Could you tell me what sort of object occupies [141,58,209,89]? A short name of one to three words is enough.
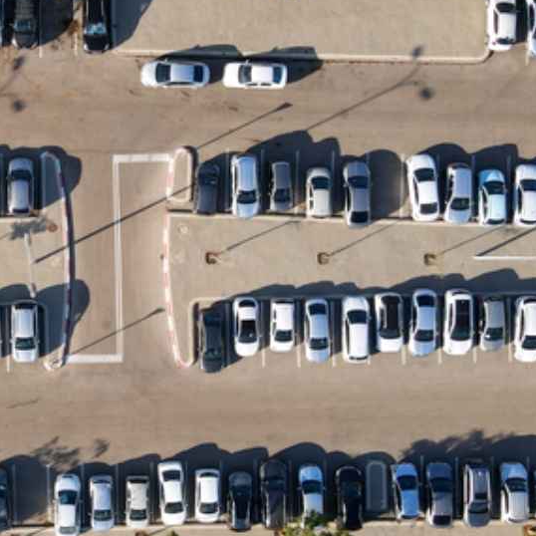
car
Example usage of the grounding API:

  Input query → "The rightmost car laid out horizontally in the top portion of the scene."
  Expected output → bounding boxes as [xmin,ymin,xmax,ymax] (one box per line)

[224,60,287,89]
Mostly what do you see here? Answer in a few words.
paved ground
